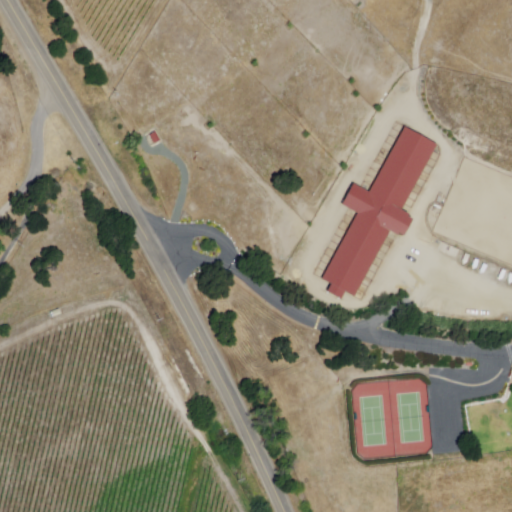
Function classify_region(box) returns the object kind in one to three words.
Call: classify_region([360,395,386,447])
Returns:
tennis court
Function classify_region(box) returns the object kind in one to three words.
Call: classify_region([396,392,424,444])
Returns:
tennis court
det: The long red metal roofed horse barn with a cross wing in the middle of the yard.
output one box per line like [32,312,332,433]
[323,125,436,298]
